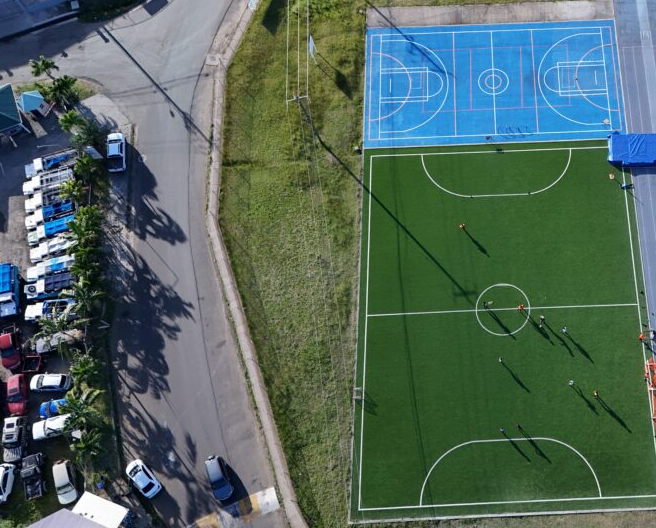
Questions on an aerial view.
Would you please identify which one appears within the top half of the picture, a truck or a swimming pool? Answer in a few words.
truck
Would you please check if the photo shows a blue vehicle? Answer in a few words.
Yes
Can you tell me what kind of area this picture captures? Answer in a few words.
sports ground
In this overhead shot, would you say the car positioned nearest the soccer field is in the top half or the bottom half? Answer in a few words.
bottom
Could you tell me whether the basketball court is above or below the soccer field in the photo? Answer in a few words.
above it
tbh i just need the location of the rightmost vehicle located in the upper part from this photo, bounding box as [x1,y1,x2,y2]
[105,132,129,175]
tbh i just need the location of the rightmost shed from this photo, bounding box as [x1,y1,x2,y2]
[75,491,137,528]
